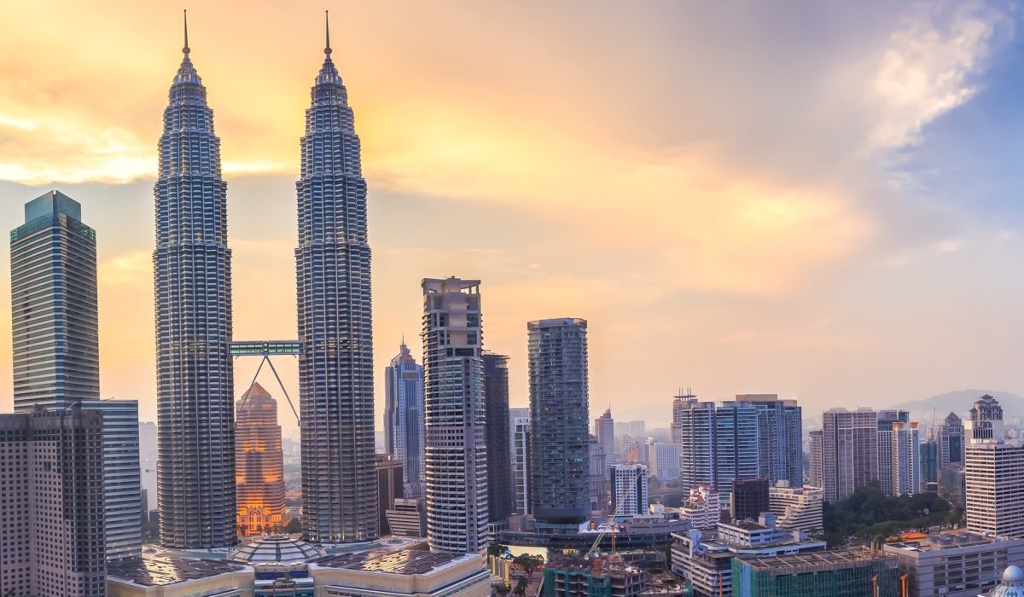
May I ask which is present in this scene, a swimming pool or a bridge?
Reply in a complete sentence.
Visible in the photo is a bridge.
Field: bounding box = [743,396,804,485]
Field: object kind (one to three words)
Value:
building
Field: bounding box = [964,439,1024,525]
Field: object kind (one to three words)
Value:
building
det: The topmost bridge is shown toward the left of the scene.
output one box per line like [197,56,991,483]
[227,341,301,417]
